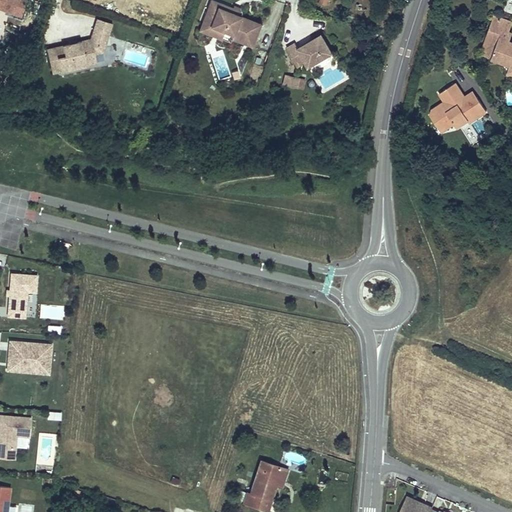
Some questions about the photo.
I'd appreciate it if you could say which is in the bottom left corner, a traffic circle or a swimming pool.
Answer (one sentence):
What appears in the bottom left corner is a swimming pool.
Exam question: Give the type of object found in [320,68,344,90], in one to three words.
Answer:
swimming pool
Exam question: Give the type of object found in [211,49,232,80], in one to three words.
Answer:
swimming pool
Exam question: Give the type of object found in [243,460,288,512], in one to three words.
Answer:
house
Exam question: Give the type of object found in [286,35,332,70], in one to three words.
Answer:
house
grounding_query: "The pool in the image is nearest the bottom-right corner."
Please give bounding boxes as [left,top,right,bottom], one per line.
[280,451,308,473]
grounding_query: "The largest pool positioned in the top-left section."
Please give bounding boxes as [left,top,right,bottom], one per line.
[118,45,151,71]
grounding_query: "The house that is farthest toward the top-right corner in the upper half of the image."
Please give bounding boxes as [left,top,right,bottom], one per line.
[484,16,512,78]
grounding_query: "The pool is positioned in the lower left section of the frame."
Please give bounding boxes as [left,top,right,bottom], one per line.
[37,433,58,466]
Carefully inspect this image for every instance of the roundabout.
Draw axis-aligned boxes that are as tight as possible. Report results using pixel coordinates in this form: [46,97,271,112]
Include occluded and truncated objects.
[329,254,418,331]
